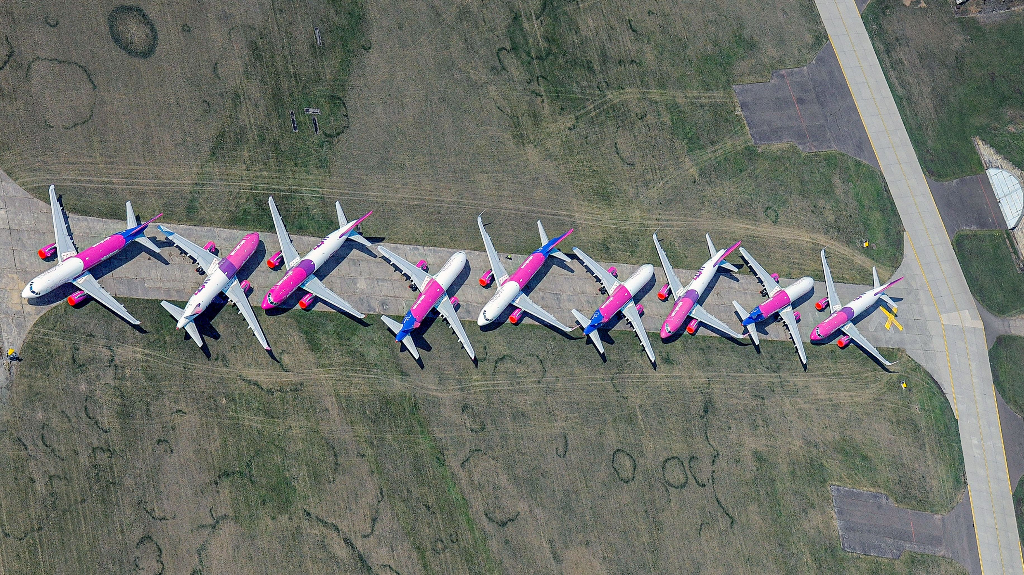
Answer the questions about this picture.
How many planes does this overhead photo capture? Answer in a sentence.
The number of planes here is 9.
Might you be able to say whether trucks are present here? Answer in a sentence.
No, there isn't any truck down there.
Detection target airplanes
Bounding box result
[375,246,476,360]
[654,225,752,337]
[809,247,903,363]
[158,227,267,348]
[21,184,163,325]
[733,247,814,363]
[261,195,372,318]
[477,208,580,329]
[570,247,656,362]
